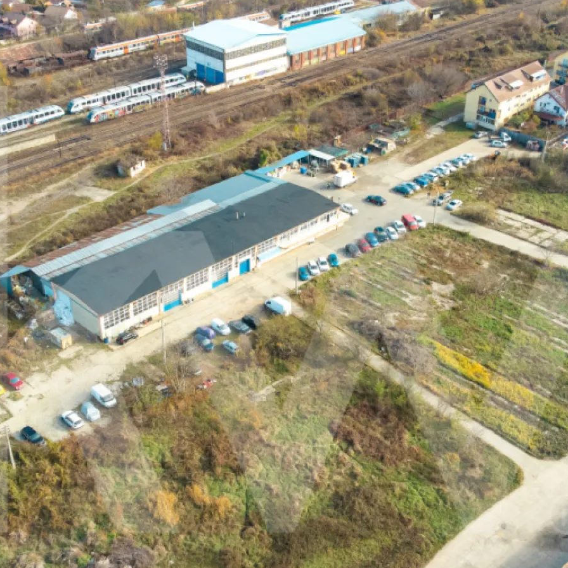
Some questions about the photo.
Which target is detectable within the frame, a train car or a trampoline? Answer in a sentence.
The image shows a train car.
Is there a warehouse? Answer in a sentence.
Yes, the photo shows a warehouse.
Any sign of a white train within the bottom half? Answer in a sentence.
No, no white train can be made out within the bottom half.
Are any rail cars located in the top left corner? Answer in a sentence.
Yes, in the top left corner there is a rail car.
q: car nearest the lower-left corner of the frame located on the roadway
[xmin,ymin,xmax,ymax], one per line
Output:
[18,424,47,446]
